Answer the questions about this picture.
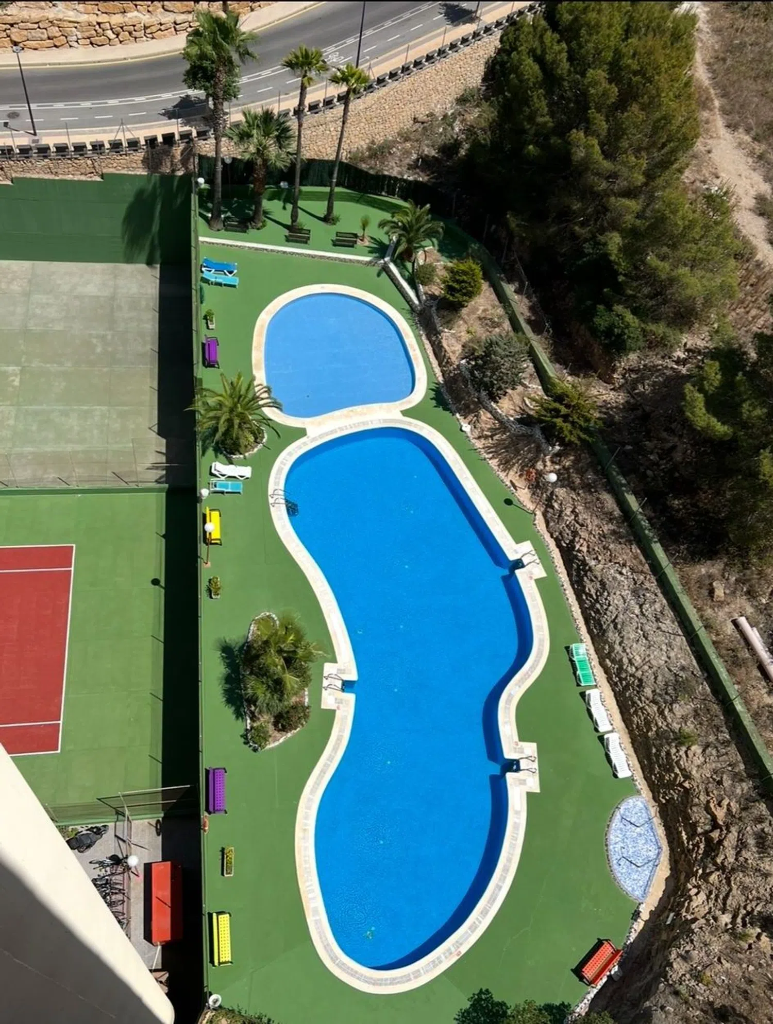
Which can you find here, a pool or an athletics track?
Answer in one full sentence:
The image shows a pool.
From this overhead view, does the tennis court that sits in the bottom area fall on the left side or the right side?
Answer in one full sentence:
You can find the tennis court that sits in the bottom area on the left side of the picture.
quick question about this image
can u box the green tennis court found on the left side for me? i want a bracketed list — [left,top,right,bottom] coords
[0,491,202,821]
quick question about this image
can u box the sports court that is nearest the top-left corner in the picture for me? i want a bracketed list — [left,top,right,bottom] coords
[0,259,197,494]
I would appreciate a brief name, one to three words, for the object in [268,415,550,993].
swimming pool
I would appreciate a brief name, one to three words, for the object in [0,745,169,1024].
building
